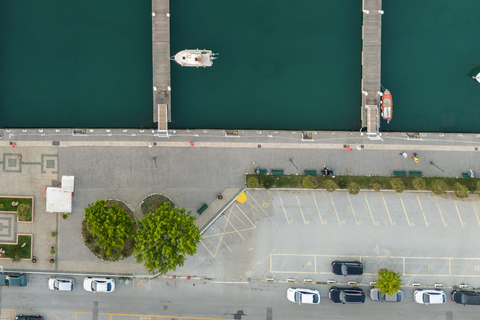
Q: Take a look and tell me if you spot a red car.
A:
No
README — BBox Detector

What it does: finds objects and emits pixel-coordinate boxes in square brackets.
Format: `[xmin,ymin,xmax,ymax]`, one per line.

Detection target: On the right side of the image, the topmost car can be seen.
[331,261,363,276]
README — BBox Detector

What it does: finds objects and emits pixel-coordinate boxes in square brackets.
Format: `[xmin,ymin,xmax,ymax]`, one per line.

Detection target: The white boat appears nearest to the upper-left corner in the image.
[170,49,219,67]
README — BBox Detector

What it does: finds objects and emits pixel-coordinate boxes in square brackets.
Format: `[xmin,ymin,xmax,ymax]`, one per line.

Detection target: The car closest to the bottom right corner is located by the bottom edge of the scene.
[450,289,480,306]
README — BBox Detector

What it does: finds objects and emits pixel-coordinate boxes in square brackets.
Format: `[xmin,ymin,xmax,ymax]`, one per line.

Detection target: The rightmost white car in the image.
[413,289,445,305]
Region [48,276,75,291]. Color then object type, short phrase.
white car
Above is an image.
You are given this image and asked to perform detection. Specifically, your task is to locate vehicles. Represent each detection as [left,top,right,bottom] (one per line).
[84,277,115,292]
[287,288,320,305]
[450,289,480,306]
[369,287,403,304]
[0,273,28,287]
[48,276,75,291]
[16,315,43,320]
[331,261,363,276]
[413,289,445,305]
[330,287,364,305]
